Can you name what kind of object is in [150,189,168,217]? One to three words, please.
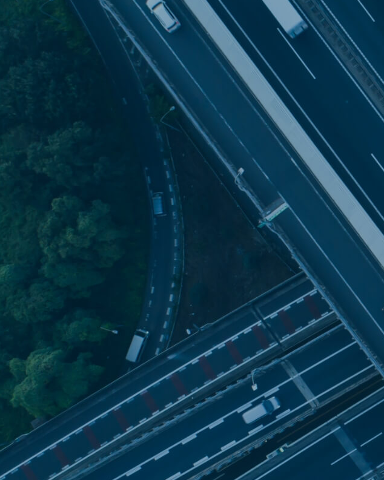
vehicle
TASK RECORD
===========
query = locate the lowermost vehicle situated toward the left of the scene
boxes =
[125,329,149,362]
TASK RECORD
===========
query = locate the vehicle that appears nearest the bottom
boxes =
[242,395,281,425]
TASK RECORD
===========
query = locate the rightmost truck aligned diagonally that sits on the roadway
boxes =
[263,0,316,48]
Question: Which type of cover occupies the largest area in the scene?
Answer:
paved ground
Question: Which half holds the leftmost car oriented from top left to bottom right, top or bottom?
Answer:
top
